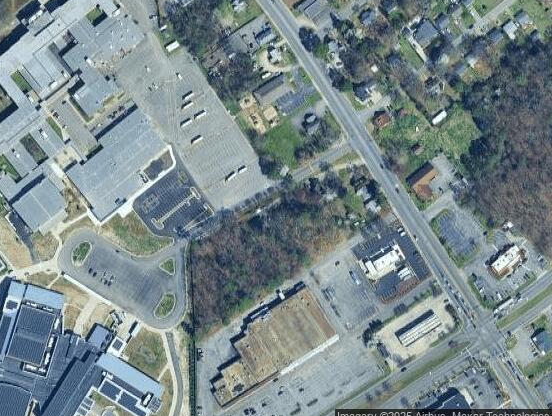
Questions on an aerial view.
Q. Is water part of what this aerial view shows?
No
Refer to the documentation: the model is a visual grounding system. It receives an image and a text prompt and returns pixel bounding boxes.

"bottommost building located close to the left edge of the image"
[0,280,165,416]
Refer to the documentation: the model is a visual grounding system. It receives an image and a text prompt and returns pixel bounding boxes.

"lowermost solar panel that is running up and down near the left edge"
[0,315,13,353]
